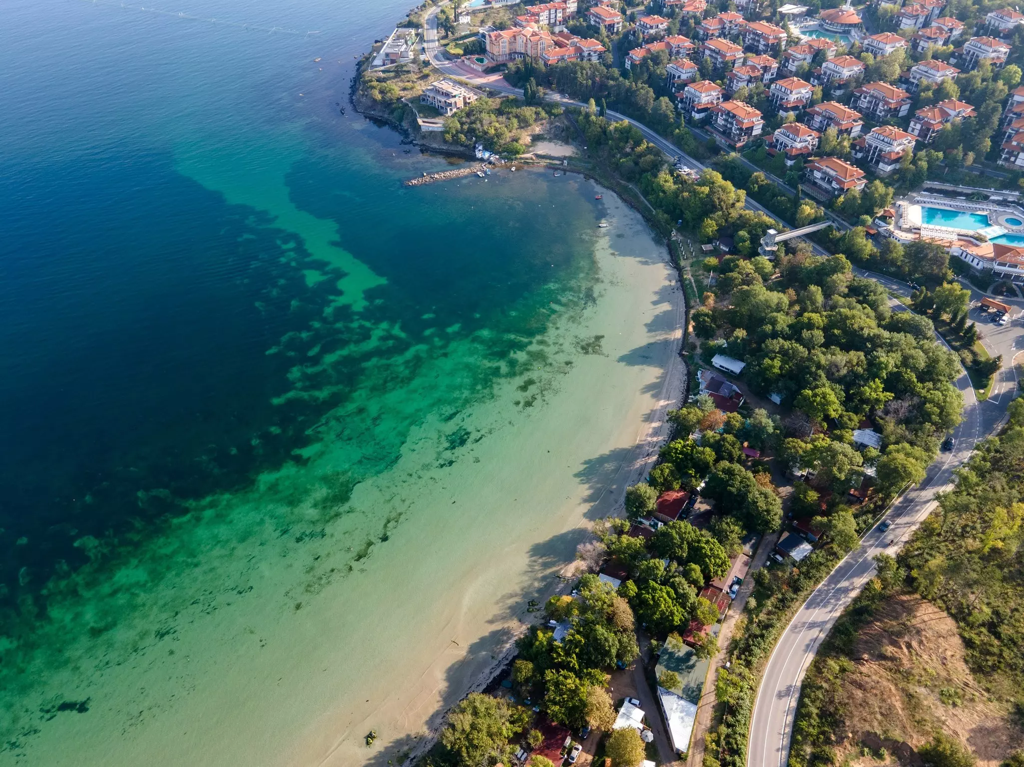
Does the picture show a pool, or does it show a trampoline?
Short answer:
pool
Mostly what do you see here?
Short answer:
water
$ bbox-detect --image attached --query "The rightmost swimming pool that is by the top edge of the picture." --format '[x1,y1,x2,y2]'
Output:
[784,20,862,53]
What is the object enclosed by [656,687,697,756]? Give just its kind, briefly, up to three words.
building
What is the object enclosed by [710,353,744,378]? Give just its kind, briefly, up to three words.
shed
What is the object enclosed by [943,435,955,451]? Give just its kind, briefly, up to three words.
vehicle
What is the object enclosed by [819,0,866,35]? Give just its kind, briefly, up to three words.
building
